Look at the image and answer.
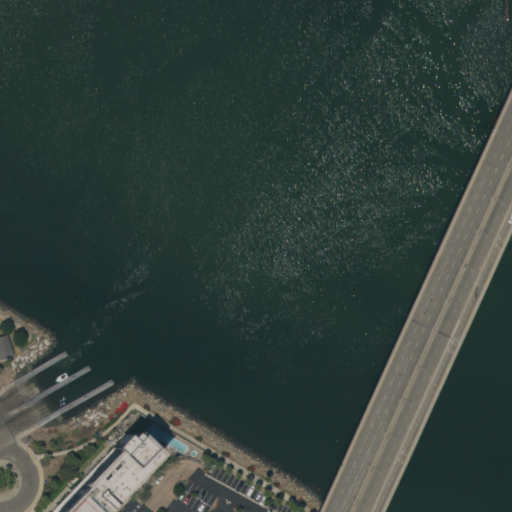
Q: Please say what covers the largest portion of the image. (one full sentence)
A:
What you mostly see from above here is water.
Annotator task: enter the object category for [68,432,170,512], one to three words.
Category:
building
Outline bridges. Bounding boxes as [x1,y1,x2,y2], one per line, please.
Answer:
[321,96,512,512]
